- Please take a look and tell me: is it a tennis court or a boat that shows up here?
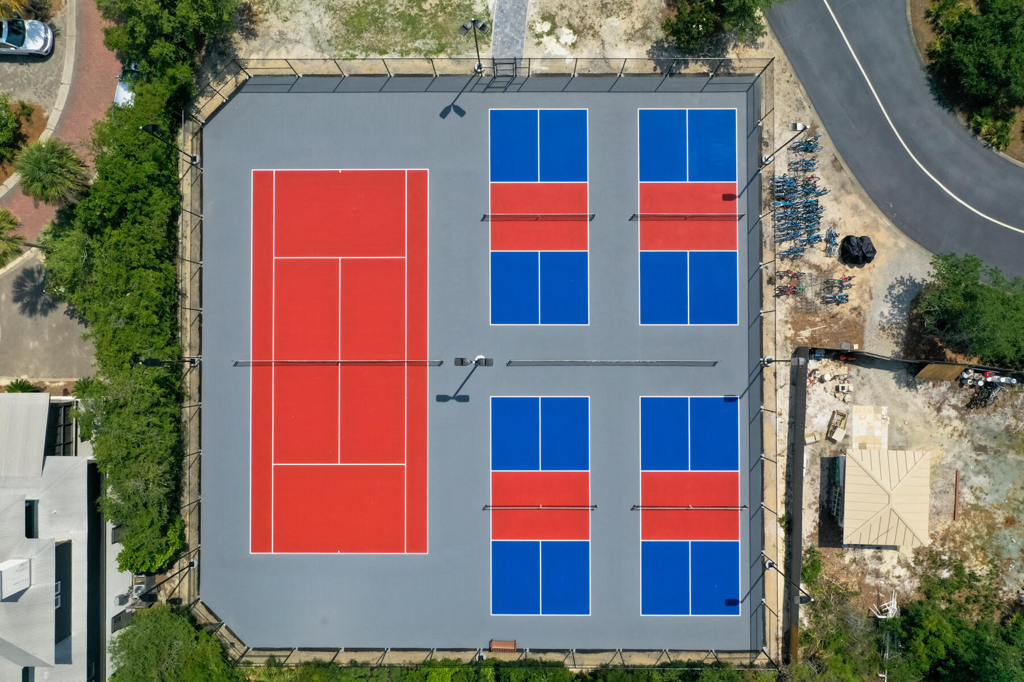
tennis court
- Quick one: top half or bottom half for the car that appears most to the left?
top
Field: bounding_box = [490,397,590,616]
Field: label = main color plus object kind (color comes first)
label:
blue sports court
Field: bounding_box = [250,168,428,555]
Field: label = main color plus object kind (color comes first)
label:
red tennis court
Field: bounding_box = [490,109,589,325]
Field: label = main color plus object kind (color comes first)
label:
blue sports court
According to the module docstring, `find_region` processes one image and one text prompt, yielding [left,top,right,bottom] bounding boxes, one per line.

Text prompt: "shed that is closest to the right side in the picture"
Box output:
[831,449,931,548]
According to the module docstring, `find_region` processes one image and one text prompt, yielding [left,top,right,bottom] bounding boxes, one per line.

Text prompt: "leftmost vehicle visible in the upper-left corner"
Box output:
[0,18,56,56]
